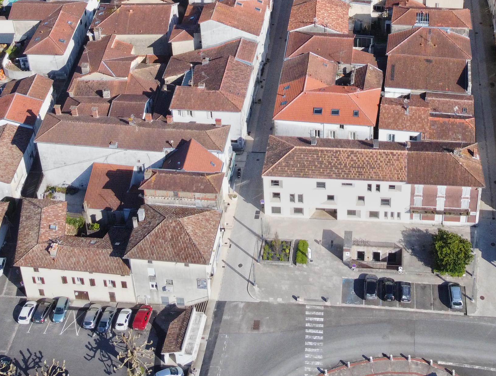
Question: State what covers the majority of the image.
buildings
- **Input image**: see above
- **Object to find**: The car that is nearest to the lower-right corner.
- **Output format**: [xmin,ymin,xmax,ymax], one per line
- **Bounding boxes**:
[448,282,463,308]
